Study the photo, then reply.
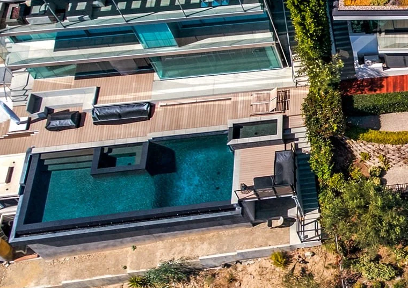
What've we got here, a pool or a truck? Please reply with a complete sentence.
Of the two, only a pool appears.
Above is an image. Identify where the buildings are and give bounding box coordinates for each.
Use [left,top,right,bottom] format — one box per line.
[333,0,408,82]
[0,0,291,80]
